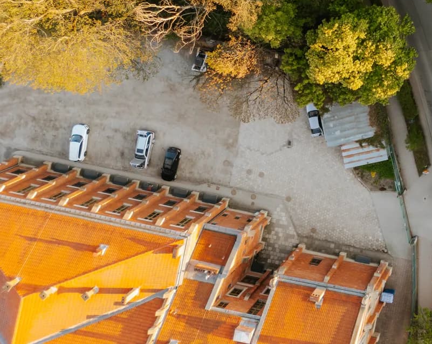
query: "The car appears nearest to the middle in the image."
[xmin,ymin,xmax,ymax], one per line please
[162,142,184,183]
